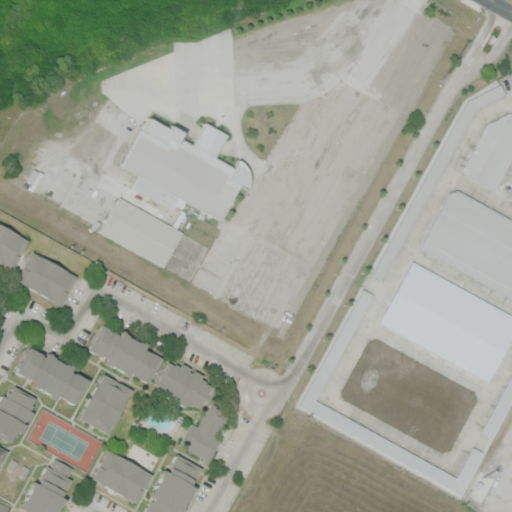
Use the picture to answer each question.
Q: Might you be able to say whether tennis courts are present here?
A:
Yes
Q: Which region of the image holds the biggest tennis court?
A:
bottom left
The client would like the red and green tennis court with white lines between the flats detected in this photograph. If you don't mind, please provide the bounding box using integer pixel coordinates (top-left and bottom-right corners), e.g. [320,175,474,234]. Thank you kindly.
[26,410,102,474]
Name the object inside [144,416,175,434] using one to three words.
swimming pool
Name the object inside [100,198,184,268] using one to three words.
hangar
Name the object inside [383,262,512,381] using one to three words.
warehouse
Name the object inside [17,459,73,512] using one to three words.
building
